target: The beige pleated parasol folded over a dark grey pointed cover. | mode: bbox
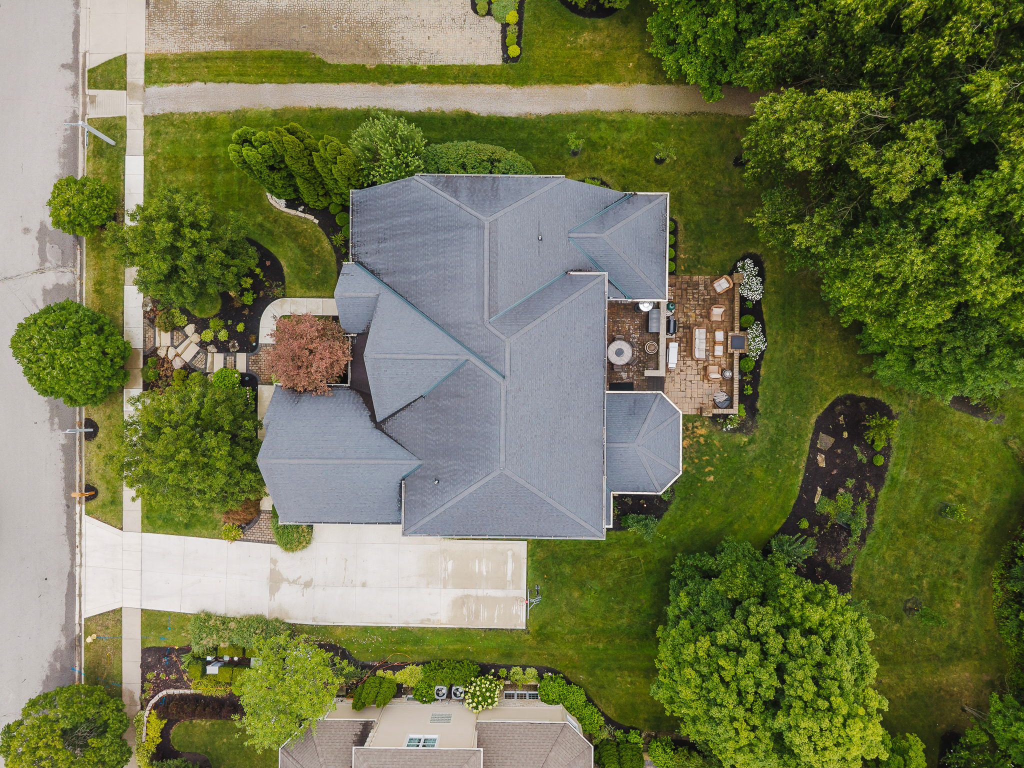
[711,388,731,409]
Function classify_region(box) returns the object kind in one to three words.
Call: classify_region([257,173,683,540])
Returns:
house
